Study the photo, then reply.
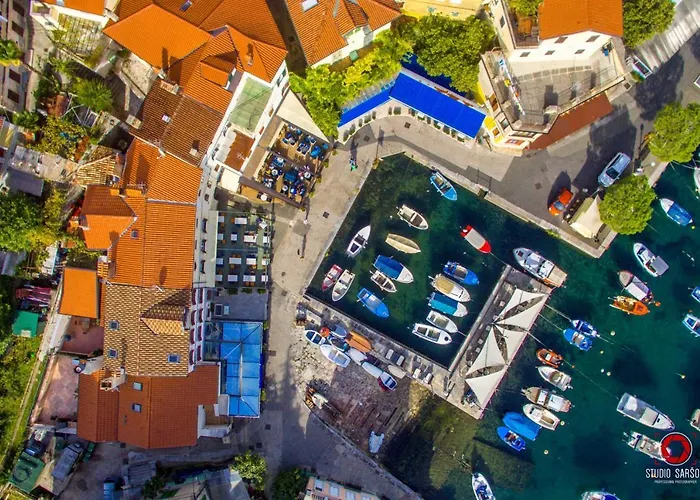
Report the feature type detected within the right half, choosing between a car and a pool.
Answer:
car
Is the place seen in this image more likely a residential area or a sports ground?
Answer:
residential area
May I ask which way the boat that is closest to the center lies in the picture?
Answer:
at an angle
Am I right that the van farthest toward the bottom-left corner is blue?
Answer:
Yes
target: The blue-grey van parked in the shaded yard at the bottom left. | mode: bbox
[46,438,88,482]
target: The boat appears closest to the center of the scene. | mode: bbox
[344,226,371,259]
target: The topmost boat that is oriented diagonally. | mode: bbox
[429,170,458,200]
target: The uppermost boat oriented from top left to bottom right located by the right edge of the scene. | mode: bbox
[660,198,697,227]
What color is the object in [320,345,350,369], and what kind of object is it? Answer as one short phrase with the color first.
white boat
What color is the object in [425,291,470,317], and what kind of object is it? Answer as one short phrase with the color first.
blue boat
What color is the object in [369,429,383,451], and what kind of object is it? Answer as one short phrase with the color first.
blue boat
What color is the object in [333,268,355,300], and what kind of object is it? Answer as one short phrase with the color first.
white boat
